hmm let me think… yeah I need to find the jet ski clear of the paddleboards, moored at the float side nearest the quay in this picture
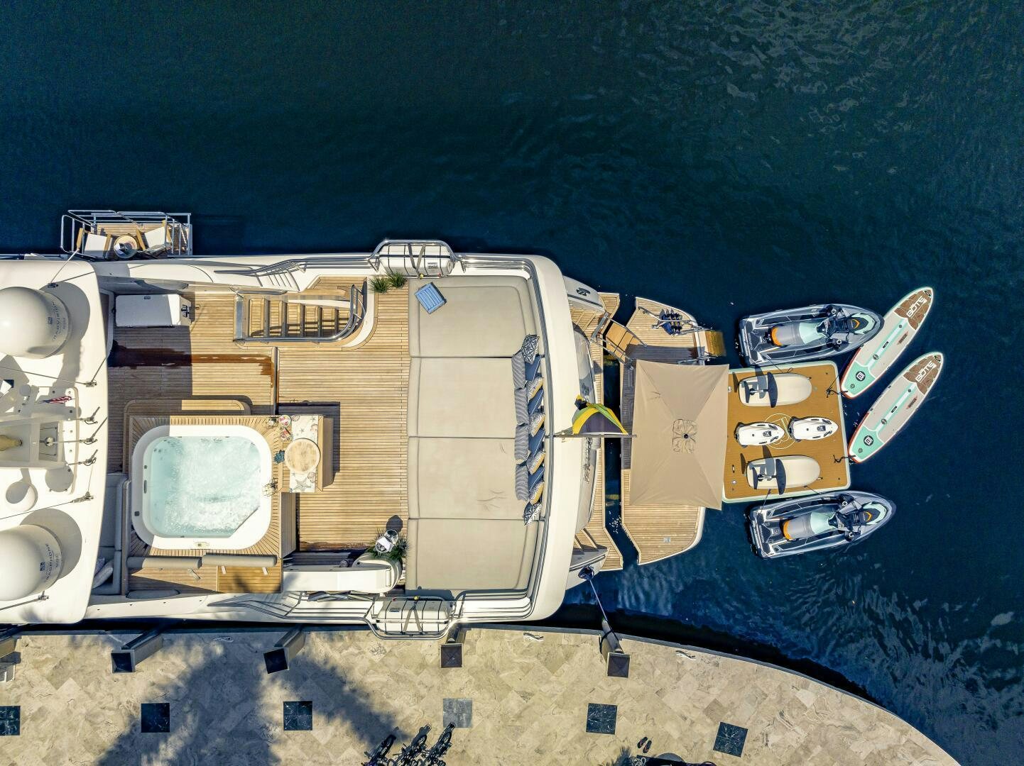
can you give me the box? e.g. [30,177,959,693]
[742,492,900,555]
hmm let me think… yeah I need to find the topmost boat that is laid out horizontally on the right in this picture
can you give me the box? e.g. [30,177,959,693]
[731,306,890,368]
